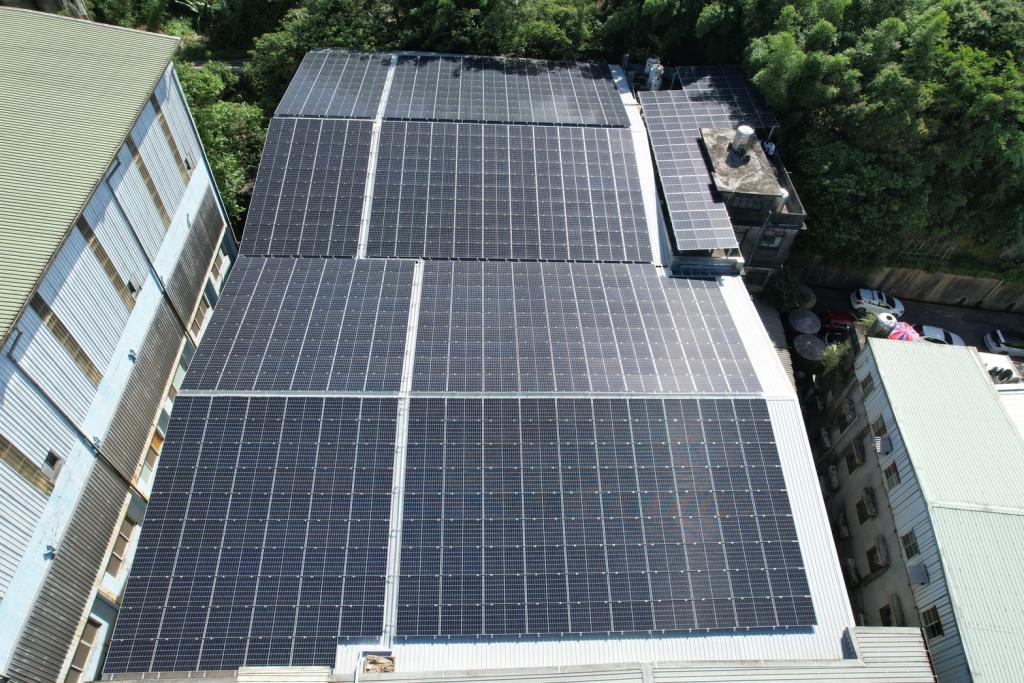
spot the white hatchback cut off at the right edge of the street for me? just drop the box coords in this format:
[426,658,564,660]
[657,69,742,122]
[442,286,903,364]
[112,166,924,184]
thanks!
[987,331,1024,358]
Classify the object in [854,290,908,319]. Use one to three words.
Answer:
car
